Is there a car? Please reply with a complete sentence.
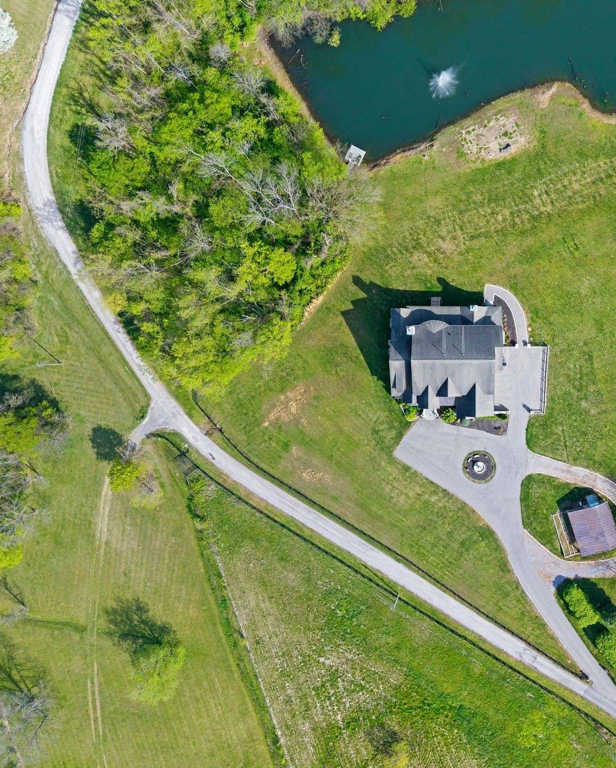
No, I can't see a single car in this photo.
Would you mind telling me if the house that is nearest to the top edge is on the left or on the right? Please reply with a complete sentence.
The house that is nearest to the top edge is on the right side of the image.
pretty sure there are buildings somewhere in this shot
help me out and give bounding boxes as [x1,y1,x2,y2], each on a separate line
[387,305,504,419]
[568,501,616,557]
